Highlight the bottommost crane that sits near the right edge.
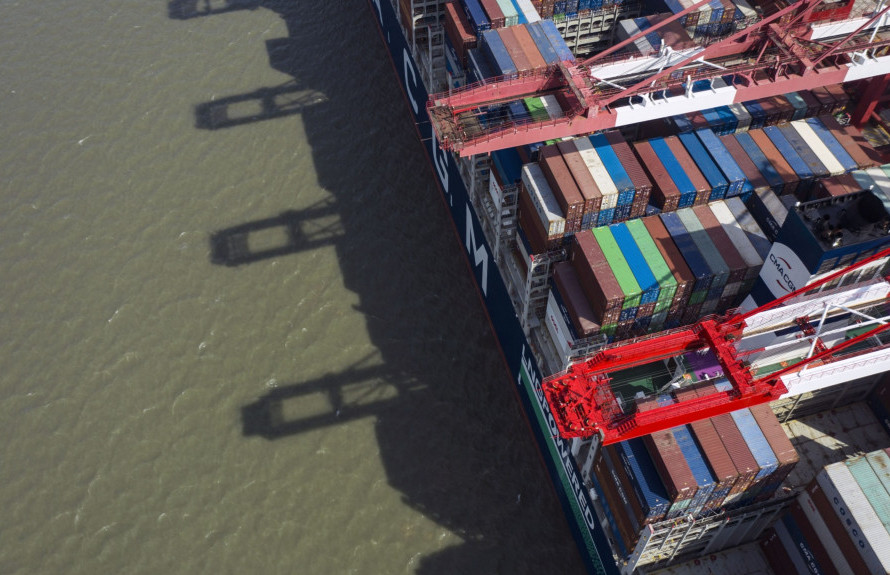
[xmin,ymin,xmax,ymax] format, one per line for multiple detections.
[541,254,890,452]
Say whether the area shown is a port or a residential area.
port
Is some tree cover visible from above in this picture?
No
